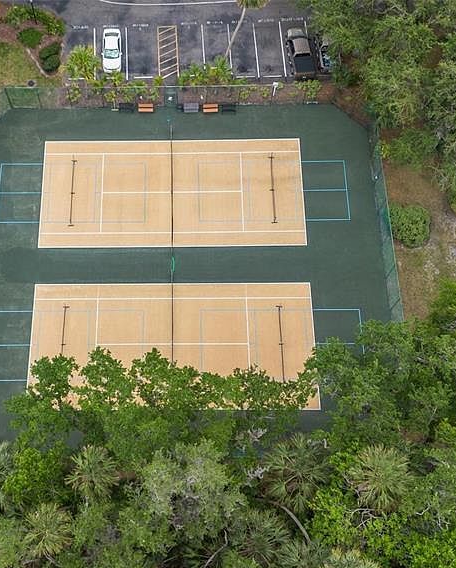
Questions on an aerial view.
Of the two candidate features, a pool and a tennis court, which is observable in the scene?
tennis court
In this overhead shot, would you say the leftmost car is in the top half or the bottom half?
top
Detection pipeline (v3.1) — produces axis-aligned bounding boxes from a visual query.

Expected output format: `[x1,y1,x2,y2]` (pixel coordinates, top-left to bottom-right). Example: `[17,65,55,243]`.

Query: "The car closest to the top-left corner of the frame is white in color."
[99,29,121,71]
